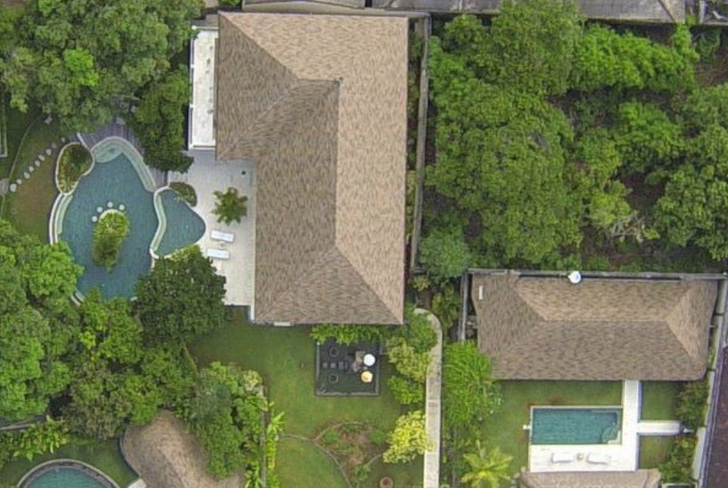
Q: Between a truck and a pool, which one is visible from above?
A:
pool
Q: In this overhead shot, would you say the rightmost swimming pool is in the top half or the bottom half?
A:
bottom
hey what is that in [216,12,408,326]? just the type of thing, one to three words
house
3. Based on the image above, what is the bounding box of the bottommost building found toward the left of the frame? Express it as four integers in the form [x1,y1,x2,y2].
[120,415,248,488]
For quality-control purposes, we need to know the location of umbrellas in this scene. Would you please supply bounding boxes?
[358,369,371,382]
[363,353,375,366]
